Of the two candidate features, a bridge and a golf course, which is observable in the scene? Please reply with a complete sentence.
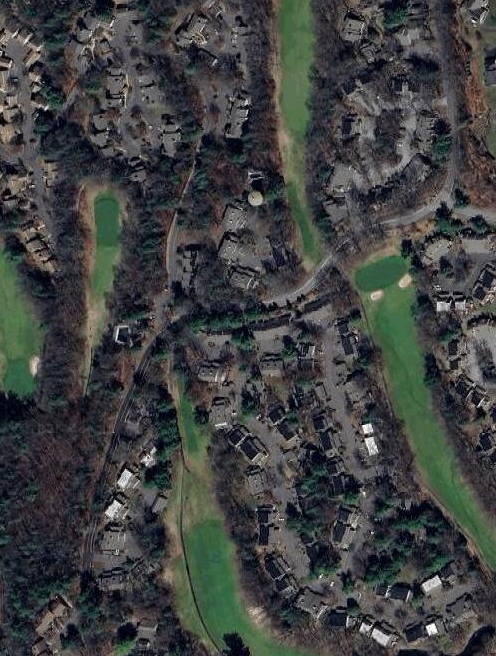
Visible in the photo is a golf course.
